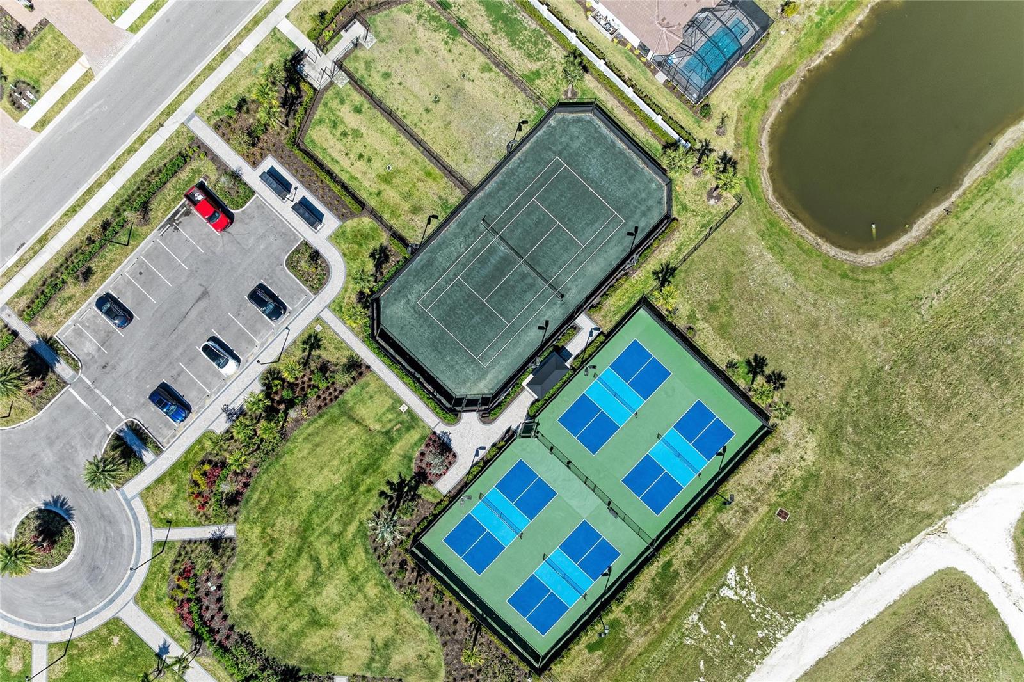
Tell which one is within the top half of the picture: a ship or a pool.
pool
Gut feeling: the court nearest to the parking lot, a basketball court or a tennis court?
tennis court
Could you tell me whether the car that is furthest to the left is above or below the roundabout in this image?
above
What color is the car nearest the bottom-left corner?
blue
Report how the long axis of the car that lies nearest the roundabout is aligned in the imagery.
at an angle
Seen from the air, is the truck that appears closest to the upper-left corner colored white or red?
red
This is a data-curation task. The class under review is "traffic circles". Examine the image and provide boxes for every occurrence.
[0,450,152,643]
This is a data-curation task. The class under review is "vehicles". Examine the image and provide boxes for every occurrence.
[248,284,285,320]
[183,185,230,234]
[93,294,130,330]
[199,339,236,376]
[148,385,187,422]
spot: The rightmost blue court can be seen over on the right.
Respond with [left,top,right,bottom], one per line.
[621,400,736,516]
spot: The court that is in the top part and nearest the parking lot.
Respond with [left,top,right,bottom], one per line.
[374,108,668,409]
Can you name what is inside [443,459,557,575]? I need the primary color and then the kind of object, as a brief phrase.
blue sports court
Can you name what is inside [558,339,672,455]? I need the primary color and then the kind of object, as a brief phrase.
blue sports court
